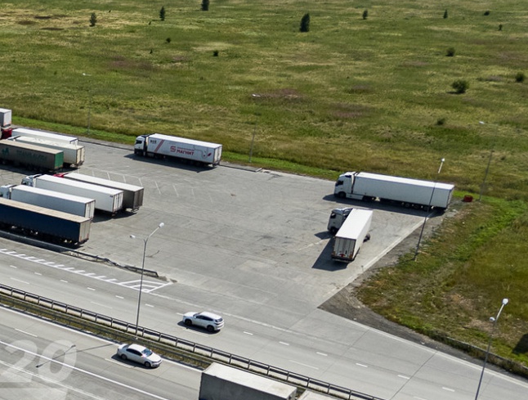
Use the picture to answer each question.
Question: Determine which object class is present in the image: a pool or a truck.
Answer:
truck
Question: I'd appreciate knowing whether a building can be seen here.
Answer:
No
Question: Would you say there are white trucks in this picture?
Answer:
Yes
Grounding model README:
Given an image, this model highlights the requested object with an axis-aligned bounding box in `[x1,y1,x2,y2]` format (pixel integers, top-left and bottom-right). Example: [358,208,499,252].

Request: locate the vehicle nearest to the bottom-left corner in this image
[119,341,165,365]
